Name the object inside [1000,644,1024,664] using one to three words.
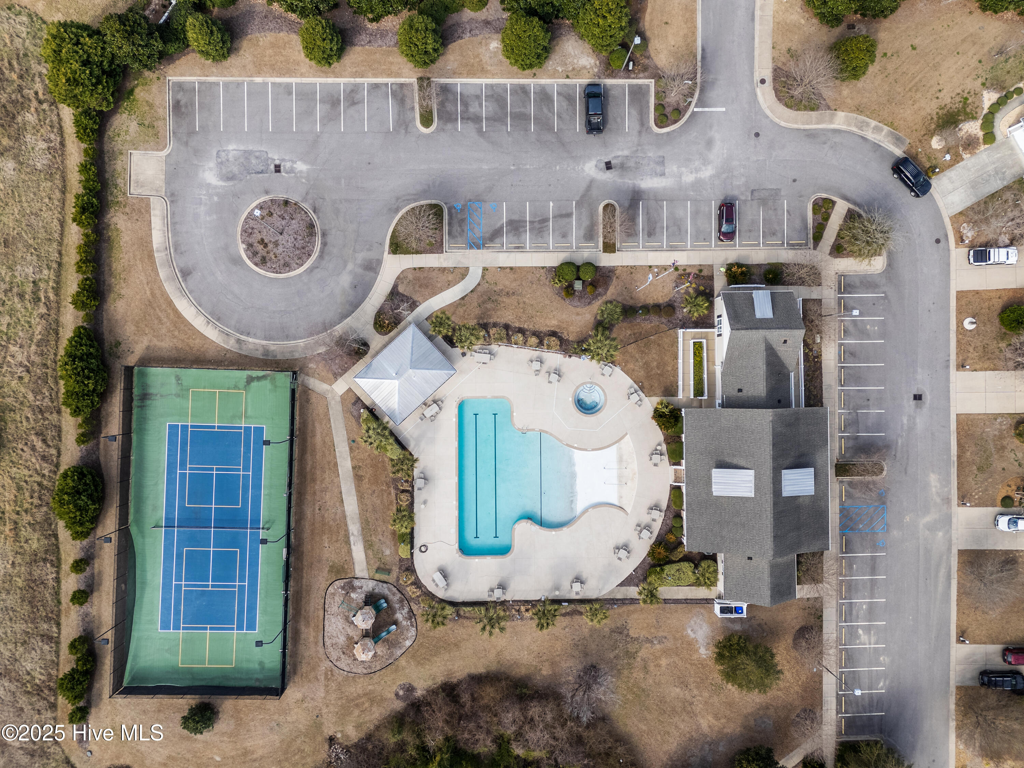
car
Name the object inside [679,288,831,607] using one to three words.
building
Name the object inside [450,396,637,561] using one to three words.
swimming pool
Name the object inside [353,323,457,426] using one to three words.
building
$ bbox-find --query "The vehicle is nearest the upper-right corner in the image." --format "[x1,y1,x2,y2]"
[890,158,929,199]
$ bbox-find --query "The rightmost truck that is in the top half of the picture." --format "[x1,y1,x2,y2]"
[965,245,1018,267]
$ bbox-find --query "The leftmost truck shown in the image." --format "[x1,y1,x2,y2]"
[583,84,605,139]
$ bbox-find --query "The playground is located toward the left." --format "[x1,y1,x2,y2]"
[340,595,396,658]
